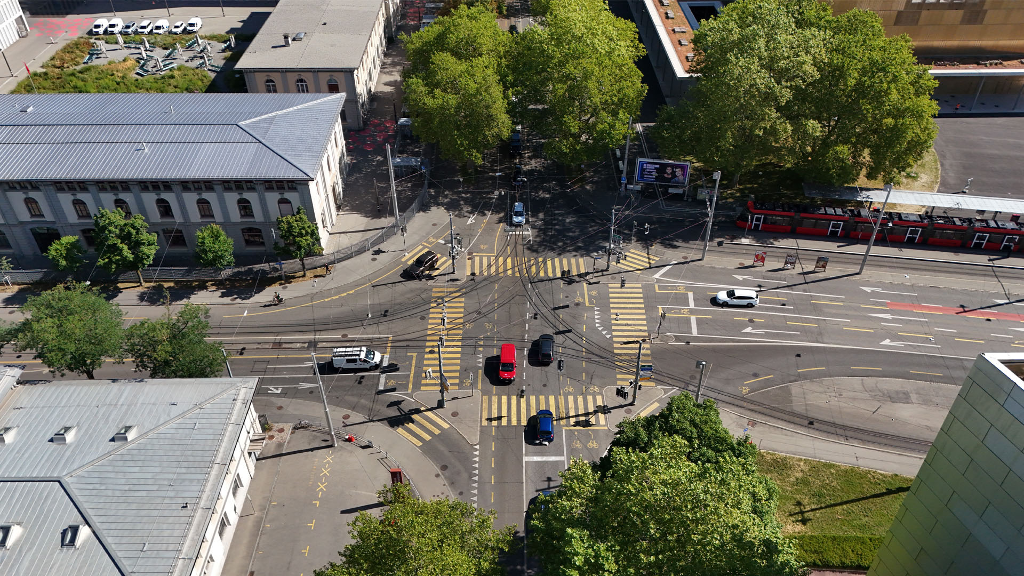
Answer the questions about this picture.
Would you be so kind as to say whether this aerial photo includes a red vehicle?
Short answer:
Yes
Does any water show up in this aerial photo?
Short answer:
No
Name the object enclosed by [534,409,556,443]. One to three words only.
car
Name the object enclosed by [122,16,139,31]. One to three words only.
car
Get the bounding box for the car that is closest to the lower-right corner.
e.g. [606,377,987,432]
[717,290,761,310]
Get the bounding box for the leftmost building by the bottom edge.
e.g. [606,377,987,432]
[0,380,262,576]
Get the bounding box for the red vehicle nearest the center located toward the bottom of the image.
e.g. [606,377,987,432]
[497,339,519,383]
